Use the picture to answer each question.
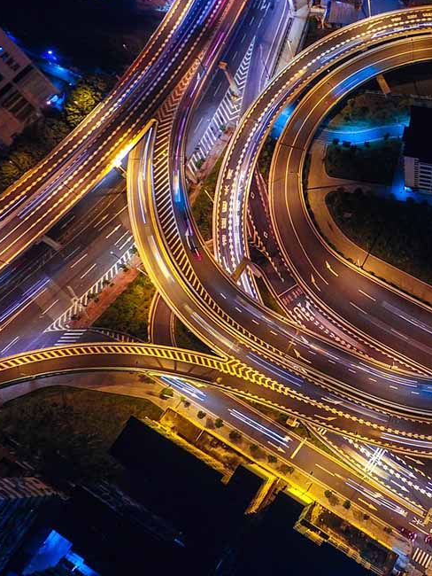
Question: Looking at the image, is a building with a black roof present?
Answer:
Yes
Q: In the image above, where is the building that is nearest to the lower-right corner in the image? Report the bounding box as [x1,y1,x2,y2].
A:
[264,489,387,576]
